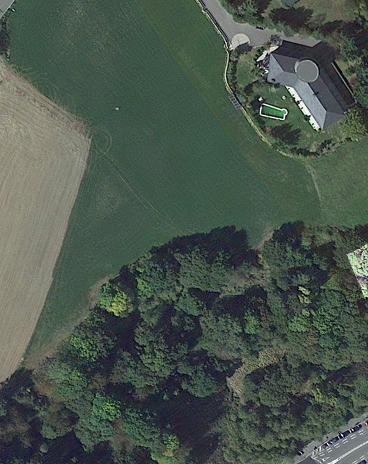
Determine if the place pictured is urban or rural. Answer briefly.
rural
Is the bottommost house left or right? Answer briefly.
right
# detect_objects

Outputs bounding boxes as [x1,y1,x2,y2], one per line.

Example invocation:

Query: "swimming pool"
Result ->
[261,106,286,119]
